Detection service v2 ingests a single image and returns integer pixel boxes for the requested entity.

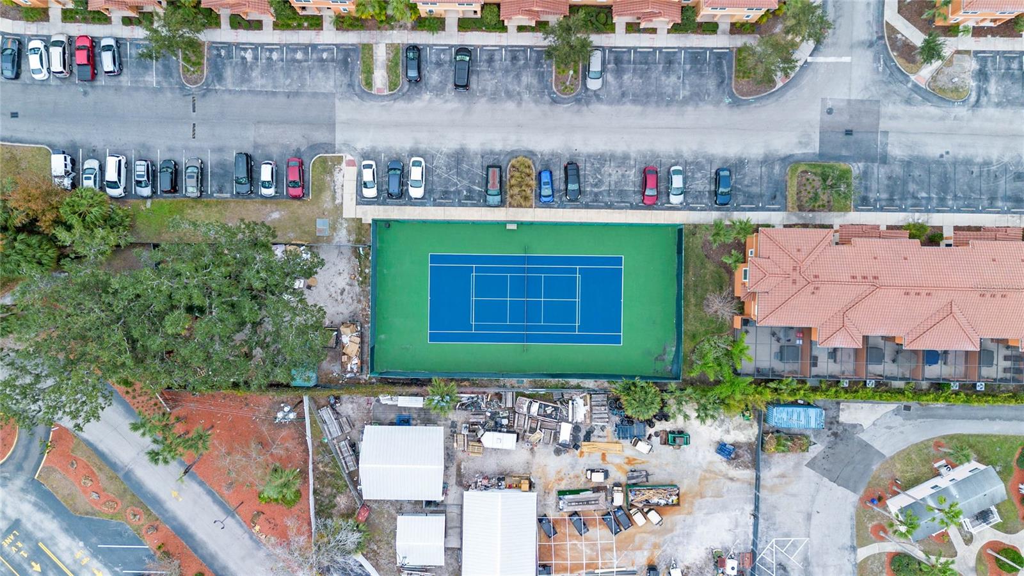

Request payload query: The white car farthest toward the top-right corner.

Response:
[668,165,686,205]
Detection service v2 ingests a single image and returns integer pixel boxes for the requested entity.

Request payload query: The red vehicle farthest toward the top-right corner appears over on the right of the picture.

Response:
[641,165,659,206]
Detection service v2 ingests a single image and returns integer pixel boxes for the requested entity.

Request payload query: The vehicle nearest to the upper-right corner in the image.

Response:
[714,167,733,206]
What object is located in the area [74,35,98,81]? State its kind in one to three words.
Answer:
truck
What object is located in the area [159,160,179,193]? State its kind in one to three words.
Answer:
car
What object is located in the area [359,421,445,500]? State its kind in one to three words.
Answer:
shed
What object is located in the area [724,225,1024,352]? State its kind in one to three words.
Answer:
house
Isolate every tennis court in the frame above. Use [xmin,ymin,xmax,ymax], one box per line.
[375,223,676,376]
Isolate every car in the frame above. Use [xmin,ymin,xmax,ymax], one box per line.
[668,165,686,205]
[286,158,305,198]
[49,34,74,78]
[82,156,104,194]
[0,39,23,79]
[134,159,157,198]
[184,158,204,198]
[714,167,733,206]
[404,46,421,83]
[100,37,123,76]
[233,152,254,195]
[105,154,129,197]
[485,165,502,206]
[563,159,582,202]
[259,160,278,197]
[360,160,379,198]
[641,165,659,206]
[538,169,554,204]
[453,47,472,92]
[586,48,604,90]
[28,40,52,81]
[386,160,404,199]
[408,157,425,199]
[51,149,75,189]
[159,160,179,193]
